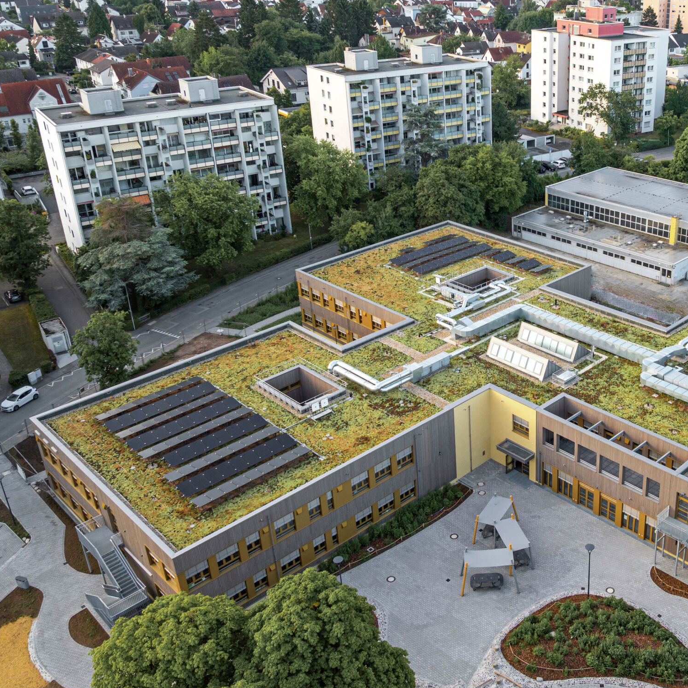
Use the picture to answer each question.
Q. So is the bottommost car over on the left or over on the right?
left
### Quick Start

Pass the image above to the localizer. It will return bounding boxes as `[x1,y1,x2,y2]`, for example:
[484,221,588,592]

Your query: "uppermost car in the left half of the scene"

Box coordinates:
[2,285,21,302]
